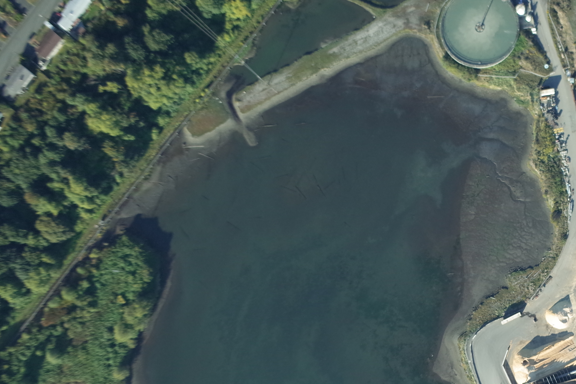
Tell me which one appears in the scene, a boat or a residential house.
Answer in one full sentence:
Looking from above, you can make out a residential house.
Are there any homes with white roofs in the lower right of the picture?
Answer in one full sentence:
No, looking in the lower right of the picture, there is no home with a white roof.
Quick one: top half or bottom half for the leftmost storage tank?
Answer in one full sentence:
It is in the top half that the leftmost storage tank appears.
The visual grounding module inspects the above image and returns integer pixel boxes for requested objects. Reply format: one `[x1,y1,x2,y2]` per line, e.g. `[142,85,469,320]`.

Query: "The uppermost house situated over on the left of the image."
[56,0,95,32]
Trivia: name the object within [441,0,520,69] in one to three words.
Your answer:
storage tank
